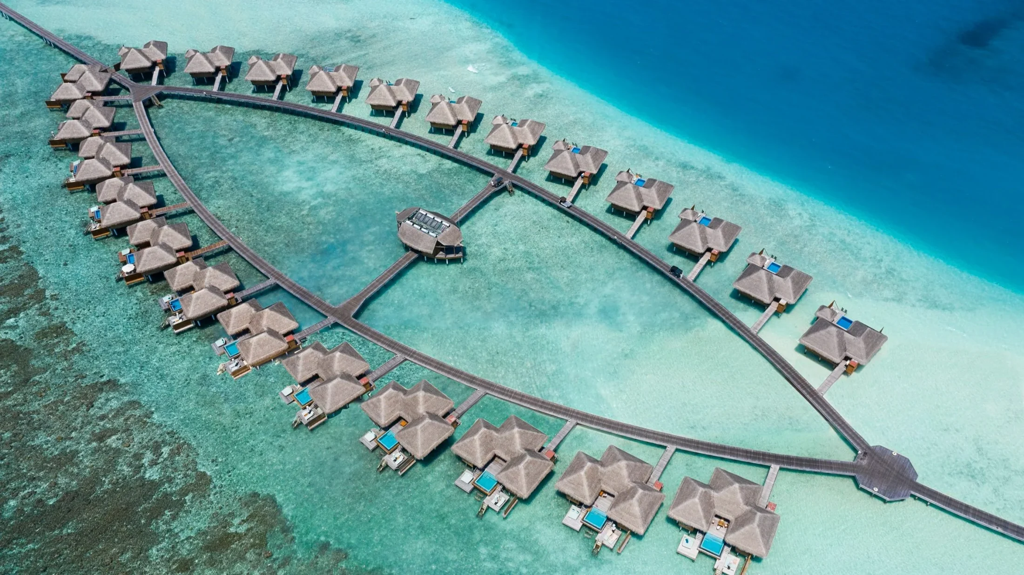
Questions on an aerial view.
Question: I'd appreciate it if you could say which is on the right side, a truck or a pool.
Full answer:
It is a pool that can be seen on the right side.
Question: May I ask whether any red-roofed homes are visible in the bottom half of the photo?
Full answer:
No, no red-roofed home is visible in the bottom half of the photo.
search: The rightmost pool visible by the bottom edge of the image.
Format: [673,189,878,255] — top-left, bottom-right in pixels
[698,534,727,561]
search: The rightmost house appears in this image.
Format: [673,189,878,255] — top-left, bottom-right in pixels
[800,297,888,383]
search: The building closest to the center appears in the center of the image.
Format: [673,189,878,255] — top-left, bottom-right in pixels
[395,208,465,268]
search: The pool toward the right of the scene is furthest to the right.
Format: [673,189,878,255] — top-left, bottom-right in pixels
[834,314,856,330]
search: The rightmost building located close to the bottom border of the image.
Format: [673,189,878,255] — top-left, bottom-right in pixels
[669,468,781,575]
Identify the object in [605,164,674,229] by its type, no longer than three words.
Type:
house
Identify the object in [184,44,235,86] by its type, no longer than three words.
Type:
house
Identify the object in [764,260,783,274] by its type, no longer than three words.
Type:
swimming pool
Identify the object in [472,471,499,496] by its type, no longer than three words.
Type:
swimming pool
